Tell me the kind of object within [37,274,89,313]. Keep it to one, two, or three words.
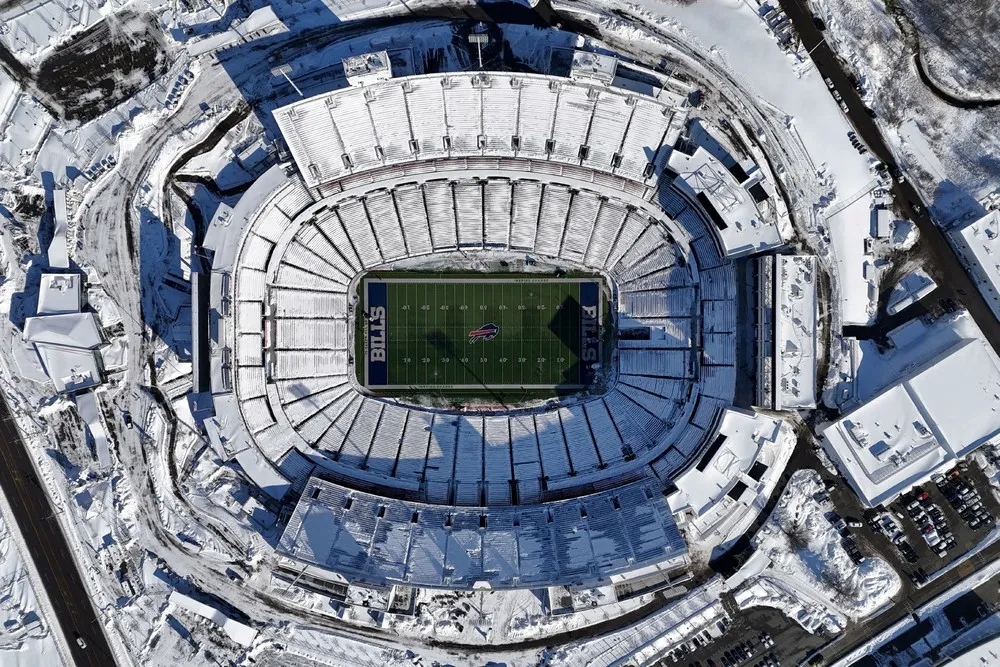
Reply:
building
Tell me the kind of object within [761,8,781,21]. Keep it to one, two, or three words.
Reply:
vehicle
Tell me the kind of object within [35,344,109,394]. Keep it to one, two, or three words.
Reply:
building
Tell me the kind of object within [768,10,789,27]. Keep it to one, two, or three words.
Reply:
vehicle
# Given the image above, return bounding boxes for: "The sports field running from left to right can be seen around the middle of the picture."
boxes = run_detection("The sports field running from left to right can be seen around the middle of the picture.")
[364,278,604,389]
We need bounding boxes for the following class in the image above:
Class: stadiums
[203,72,740,590]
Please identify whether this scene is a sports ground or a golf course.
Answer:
sports ground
